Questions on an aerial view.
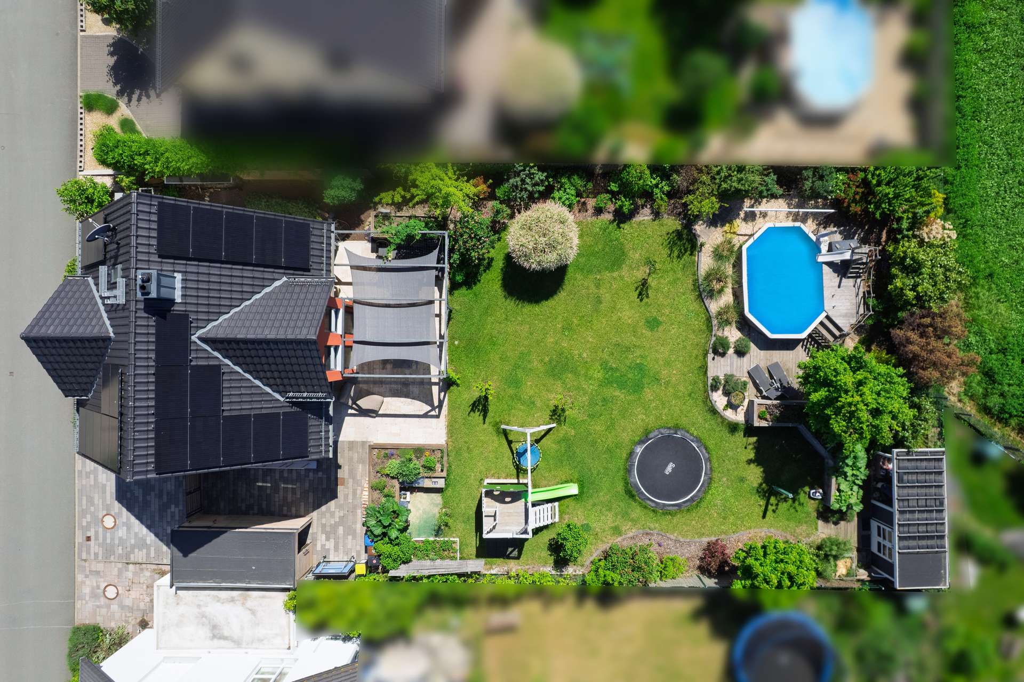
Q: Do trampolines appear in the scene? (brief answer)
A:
Yes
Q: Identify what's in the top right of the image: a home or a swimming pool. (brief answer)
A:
swimming pool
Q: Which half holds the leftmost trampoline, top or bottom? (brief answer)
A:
bottom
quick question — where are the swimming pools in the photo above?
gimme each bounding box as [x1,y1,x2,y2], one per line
[781,0,875,122]
[738,222,827,338]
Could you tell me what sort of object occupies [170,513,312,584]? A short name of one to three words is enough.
shed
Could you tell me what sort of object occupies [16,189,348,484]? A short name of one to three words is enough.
house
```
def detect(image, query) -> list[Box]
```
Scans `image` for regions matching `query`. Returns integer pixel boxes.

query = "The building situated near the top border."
[157,0,445,119]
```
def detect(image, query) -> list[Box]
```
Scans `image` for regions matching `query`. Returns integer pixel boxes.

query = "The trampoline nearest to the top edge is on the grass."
[627,427,711,511]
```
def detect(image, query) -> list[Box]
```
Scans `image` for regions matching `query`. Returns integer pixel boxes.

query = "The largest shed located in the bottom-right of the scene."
[867,444,949,589]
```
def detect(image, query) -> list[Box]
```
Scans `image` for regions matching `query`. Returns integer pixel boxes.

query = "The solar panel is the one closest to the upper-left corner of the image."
[81,213,106,265]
